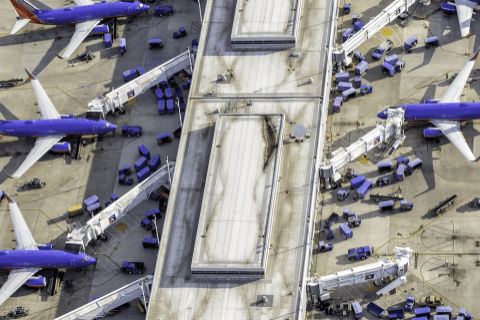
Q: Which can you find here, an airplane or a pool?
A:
airplane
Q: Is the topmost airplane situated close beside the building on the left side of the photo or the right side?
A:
left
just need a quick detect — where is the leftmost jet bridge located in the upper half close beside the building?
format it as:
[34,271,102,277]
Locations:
[88,46,203,118]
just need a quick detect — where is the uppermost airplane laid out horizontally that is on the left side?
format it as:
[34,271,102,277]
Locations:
[9,0,150,61]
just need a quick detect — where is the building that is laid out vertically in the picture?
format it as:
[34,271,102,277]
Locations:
[148,0,339,320]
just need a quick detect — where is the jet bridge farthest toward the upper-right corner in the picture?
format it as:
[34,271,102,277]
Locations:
[330,0,427,72]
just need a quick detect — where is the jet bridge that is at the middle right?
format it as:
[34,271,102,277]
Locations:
[318,113,407,196]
